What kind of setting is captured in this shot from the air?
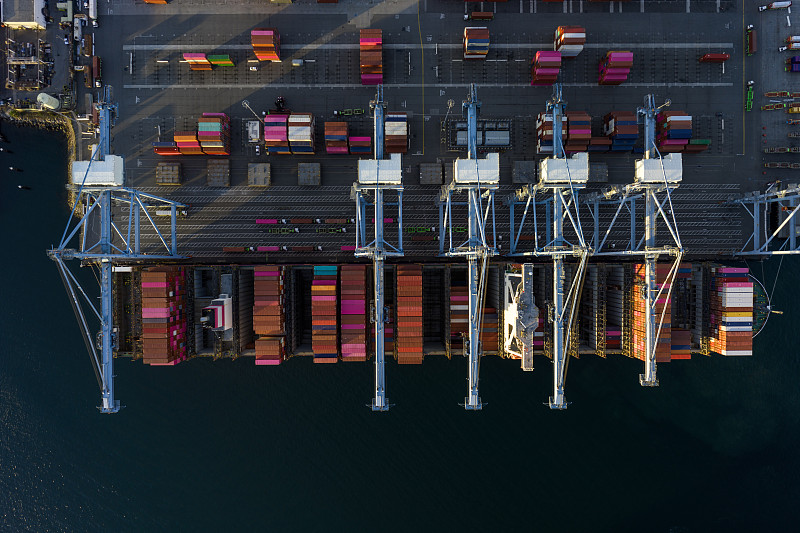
port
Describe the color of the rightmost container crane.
blue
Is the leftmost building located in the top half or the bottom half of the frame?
top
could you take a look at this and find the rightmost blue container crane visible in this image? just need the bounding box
[734,187,800,262]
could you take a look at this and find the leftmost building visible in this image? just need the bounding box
[1,0,57,31]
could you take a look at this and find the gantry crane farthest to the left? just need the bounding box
[54,81,189,412]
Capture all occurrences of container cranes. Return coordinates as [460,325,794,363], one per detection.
[345,81,409,412]
[54,81,189,412]
[734,187,800,262]
[433,81,497,412]
[501,81,588,412]
[578,81,697,388]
